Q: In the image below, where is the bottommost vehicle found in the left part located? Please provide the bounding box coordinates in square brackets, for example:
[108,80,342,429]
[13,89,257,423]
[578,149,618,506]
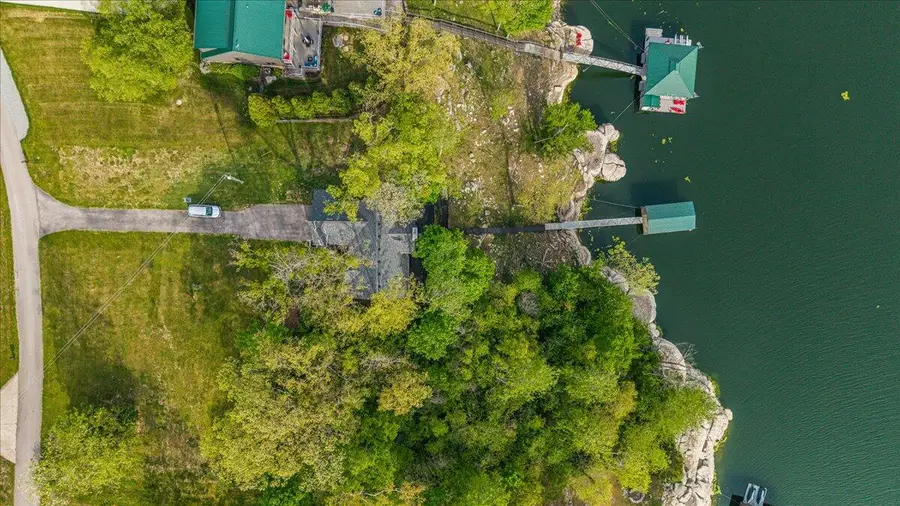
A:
[186,203,220,219]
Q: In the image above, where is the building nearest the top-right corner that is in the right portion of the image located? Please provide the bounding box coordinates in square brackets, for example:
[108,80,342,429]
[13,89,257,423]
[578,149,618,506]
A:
[640,201,696,235]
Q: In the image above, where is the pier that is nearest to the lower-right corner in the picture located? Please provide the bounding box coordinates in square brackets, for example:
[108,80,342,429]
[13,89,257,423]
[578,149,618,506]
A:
[731,483,780,506]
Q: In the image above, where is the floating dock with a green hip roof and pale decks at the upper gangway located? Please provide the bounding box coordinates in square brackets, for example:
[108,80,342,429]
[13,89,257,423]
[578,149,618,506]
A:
[635,29,702,114]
